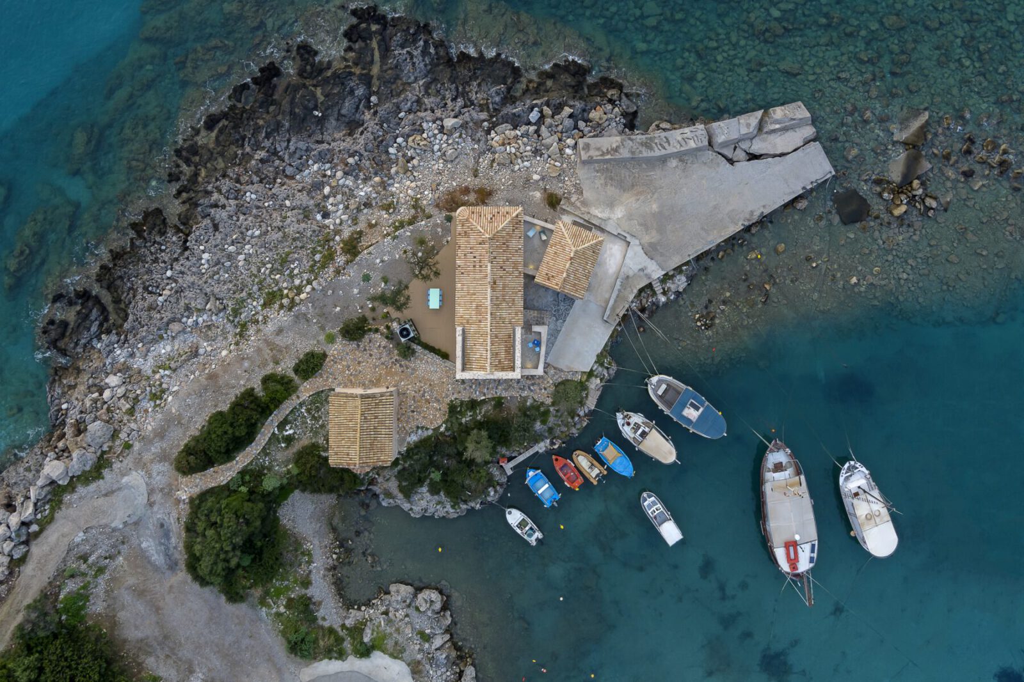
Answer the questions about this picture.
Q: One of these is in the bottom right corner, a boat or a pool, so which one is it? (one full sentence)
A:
The one visible in the bottom right corner is a boat.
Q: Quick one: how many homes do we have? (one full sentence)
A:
The count of homes comes to 3.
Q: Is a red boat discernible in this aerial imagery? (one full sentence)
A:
Yes, there's a red boat here.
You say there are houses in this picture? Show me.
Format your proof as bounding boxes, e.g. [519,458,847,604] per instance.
[326,387,400,473]
[453,204,526,380]
[532,219,606,300]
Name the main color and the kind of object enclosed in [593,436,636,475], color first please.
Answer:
blue boat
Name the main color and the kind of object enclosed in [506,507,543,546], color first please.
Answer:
white boat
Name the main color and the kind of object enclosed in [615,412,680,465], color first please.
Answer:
white boat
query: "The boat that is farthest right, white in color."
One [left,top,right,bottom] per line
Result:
[836,460,902,558]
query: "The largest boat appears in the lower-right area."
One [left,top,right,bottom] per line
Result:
[758,438,817,607]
